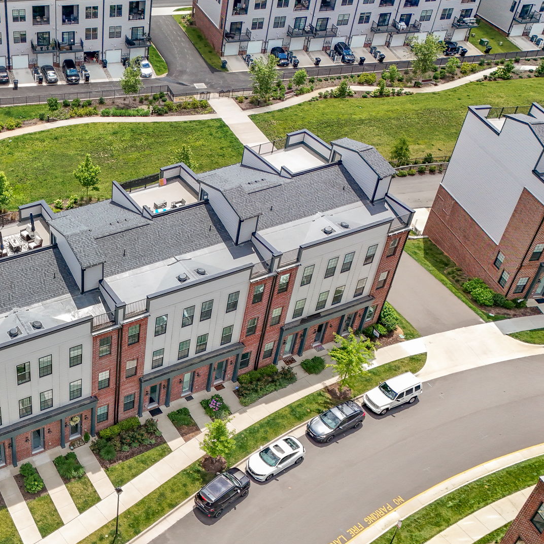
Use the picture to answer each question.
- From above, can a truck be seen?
No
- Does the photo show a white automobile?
Yes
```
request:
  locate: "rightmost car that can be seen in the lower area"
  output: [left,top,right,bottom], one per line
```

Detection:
[366,371,429,416]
